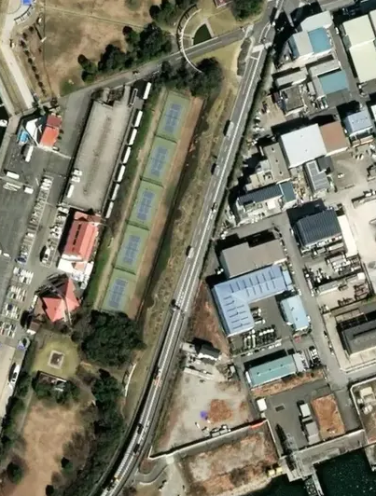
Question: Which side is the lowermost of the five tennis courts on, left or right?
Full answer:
The lowermost of the five tennis courts appears in the left half of the scene.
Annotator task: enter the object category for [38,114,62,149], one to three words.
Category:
building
